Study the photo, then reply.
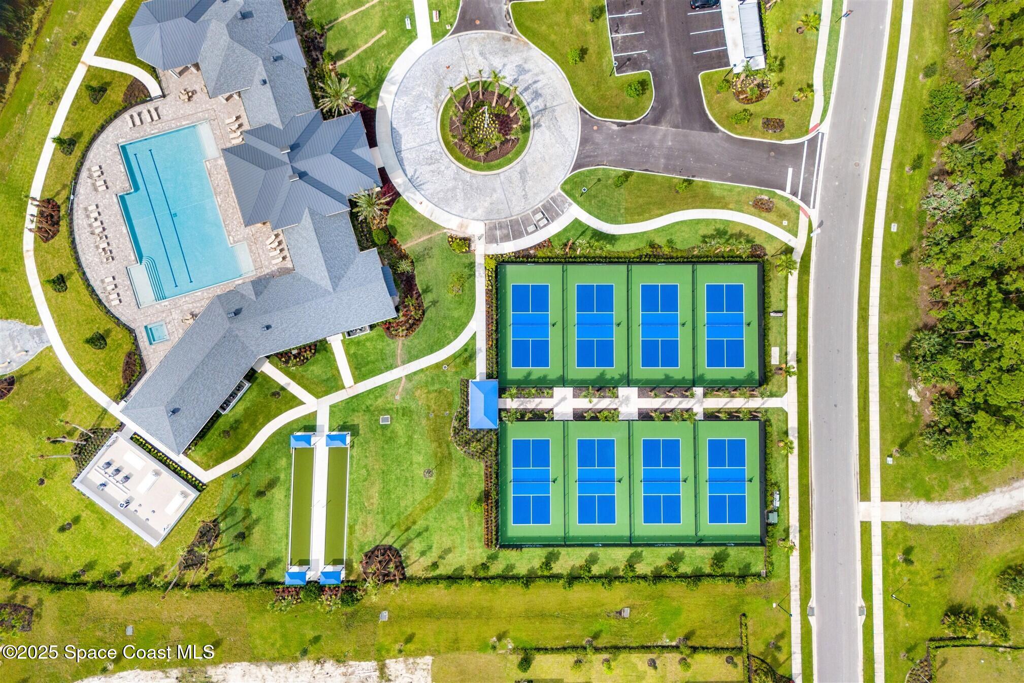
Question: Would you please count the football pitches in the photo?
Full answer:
Not a single football pitch can be seen.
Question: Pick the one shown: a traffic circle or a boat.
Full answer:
There is a traffic circle in the scene.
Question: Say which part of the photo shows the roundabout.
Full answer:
You can find the roundabout in the top area of the picture.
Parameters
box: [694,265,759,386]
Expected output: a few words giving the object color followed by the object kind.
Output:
green sports court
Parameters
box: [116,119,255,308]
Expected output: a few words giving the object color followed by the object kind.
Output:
blue swimming pool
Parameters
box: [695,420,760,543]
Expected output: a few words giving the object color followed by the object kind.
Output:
green sports court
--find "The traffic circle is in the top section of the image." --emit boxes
[394,36,577,217]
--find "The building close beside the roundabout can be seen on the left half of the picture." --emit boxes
[119,0,400,455]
